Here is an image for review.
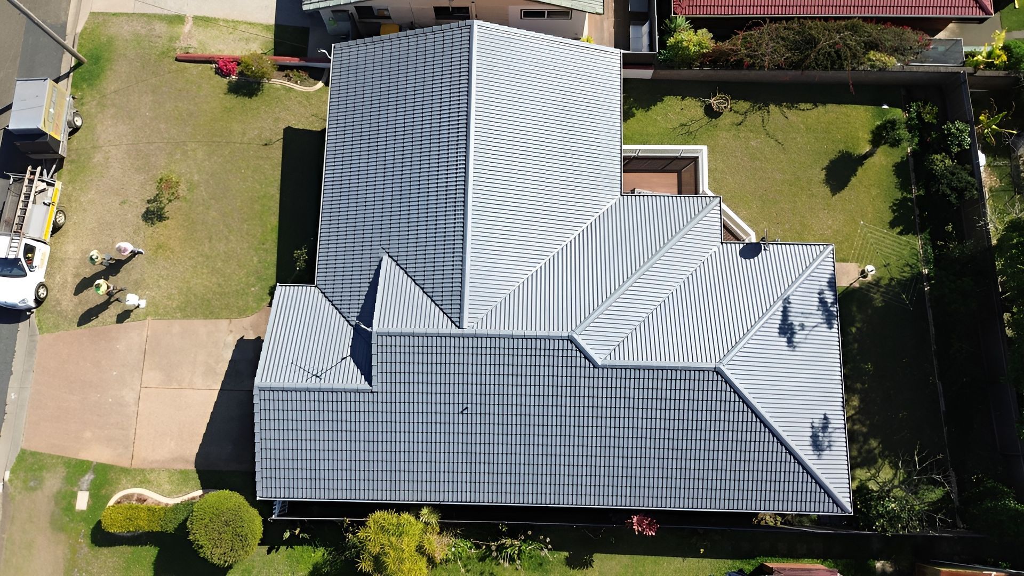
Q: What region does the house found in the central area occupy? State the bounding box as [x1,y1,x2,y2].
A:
[253,17,855,518]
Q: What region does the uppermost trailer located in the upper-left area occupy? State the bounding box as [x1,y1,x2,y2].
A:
[6,78,78,179]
